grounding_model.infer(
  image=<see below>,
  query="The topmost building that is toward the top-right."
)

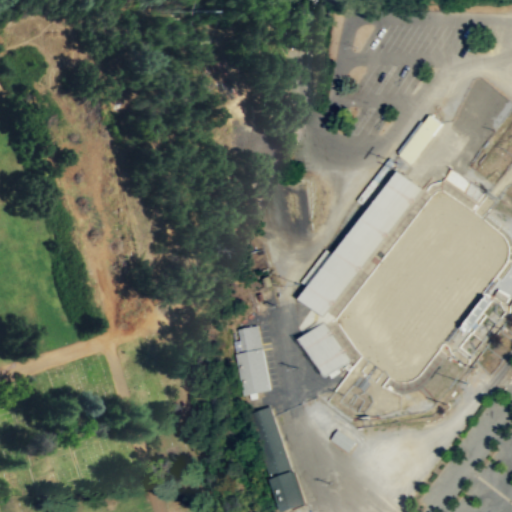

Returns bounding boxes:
[400,114,446,164]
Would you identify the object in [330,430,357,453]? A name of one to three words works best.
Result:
shed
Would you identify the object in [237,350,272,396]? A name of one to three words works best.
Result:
barn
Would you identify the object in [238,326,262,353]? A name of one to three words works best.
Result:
barn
